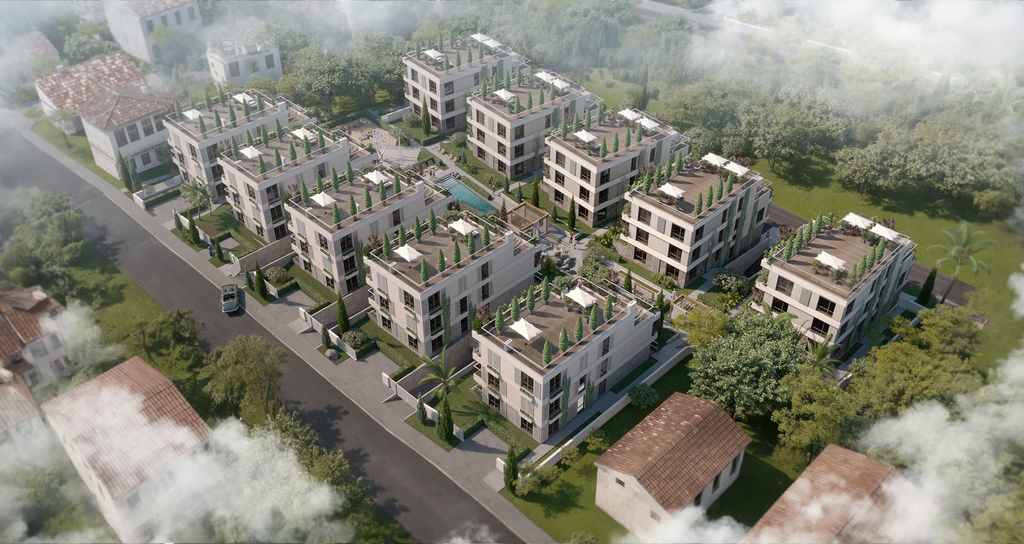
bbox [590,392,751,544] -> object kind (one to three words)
house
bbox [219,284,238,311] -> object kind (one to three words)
car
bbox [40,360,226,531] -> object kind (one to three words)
house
